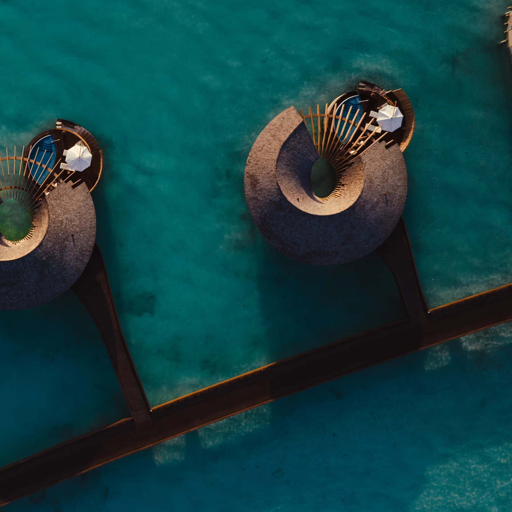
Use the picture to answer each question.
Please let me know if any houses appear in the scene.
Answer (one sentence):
Yes, the image includes a house.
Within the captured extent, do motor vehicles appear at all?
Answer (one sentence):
No, the scene contains no motor vehicle.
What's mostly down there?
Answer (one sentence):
Most of the picture is covered by water.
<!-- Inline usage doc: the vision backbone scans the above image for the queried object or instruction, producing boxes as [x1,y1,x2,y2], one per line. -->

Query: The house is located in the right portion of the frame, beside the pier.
[243,106,407,265]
